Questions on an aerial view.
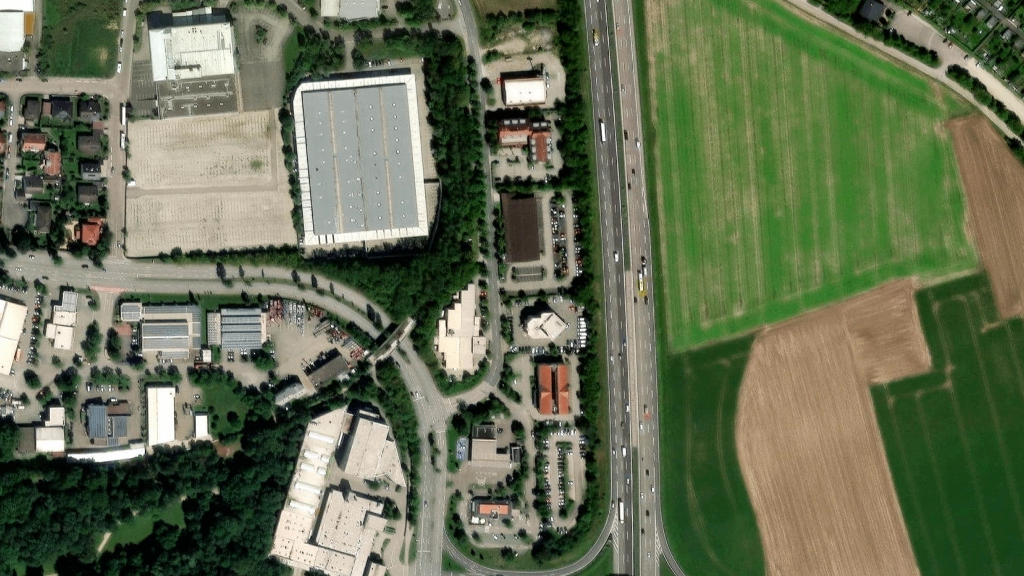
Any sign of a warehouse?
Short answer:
Yes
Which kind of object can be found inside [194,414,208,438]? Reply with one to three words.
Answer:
shed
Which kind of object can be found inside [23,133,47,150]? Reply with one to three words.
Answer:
house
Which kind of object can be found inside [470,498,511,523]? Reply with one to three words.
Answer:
building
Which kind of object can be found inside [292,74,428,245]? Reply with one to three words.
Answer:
warehouse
